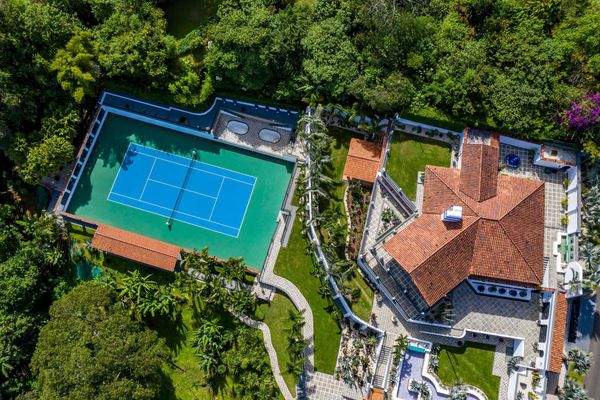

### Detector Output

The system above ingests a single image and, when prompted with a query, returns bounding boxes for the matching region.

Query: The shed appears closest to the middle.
[343,139,382,184]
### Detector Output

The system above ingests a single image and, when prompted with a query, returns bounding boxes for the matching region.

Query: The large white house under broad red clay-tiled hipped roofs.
[384,127,547,306]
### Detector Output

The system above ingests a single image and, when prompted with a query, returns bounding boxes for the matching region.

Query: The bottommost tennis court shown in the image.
[63,115,294,272]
